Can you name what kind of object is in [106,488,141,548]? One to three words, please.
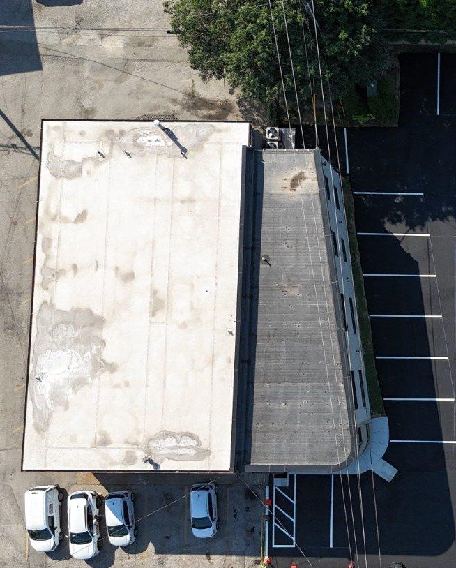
car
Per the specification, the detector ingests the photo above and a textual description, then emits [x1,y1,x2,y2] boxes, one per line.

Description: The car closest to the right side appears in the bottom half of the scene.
[189,479,220,539]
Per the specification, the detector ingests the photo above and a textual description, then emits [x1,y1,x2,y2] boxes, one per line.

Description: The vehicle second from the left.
[67,486,105,560]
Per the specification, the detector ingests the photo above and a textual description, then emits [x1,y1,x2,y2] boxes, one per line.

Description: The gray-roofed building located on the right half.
[242,149,372,473]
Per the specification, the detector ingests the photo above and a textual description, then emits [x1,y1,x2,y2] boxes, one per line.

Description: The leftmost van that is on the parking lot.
[25,482,65,553]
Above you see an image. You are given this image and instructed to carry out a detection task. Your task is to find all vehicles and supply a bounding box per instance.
[25,482,65,553]
[106,488,141,548]
[189,479,220,539]
[67,486,105,560]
